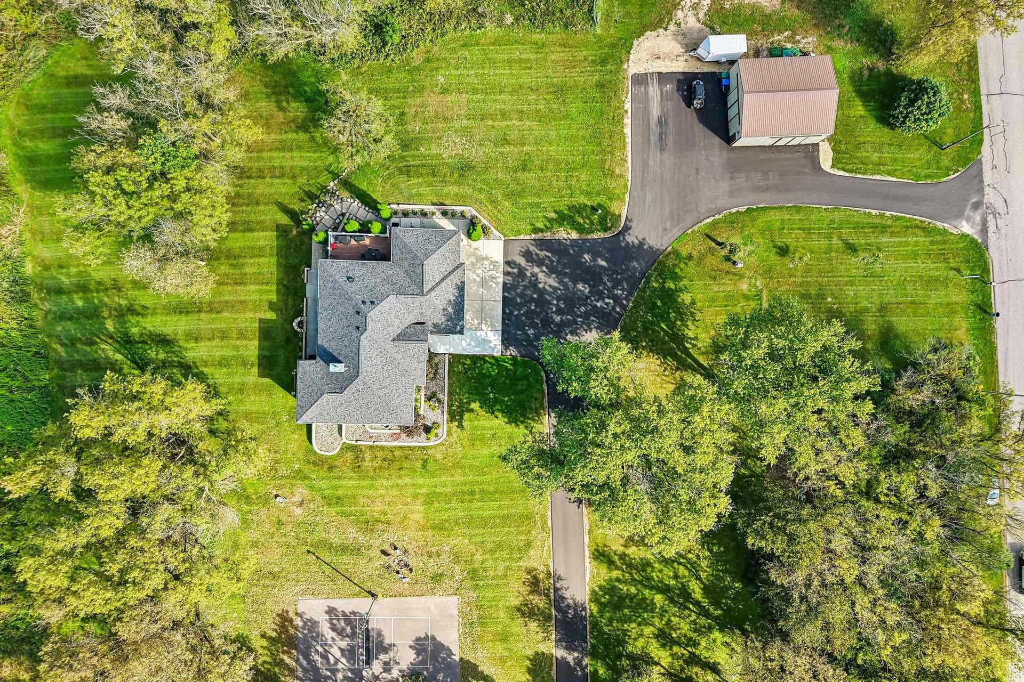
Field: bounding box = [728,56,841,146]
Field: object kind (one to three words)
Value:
barn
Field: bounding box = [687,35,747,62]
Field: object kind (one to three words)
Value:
trailer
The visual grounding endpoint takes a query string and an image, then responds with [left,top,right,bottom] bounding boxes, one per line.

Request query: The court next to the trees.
[295,596,460,682]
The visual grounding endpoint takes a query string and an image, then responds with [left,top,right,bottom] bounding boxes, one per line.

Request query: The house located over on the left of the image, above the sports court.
[296,227,466,425]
